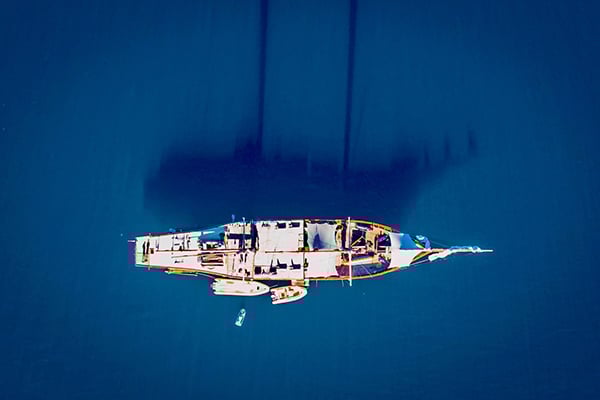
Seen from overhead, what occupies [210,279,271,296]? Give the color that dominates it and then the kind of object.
white boat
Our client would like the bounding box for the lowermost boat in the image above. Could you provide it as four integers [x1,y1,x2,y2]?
[233,309,246,327]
